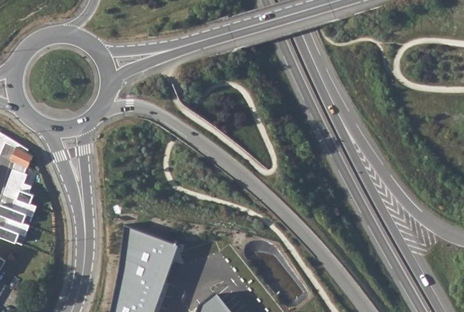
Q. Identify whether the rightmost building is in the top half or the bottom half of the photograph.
bottom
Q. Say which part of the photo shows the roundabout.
top left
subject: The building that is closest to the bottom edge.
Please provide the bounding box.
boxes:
[194,292,231,312]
